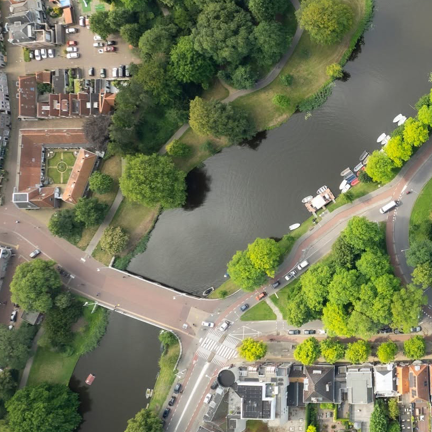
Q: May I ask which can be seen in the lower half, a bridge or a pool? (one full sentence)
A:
The one visible in the lower half is a bridge.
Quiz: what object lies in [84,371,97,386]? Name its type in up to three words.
boat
